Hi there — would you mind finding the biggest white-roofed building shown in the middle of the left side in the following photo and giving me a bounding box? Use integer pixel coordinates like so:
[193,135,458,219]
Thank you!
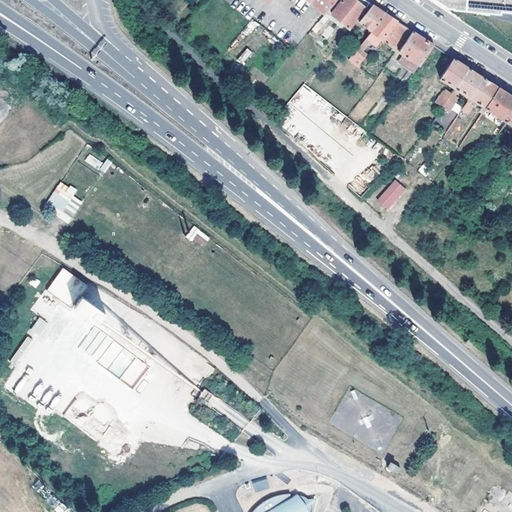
[48,268,87,306]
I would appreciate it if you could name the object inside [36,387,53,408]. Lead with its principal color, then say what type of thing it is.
white vehicle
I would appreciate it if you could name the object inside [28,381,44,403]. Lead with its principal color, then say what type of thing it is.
white vehicle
